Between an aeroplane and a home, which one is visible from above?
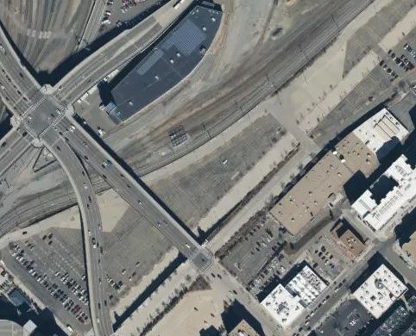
home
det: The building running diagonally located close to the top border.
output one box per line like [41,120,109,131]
[108,6,222,124]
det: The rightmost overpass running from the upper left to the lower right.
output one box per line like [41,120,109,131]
[62,113,228,283]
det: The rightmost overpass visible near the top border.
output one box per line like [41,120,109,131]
[53,0,196,103]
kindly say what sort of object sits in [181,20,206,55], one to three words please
solar array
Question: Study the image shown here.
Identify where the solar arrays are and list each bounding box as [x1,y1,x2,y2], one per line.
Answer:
[138,48,163,74]
[181,20,206,55]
